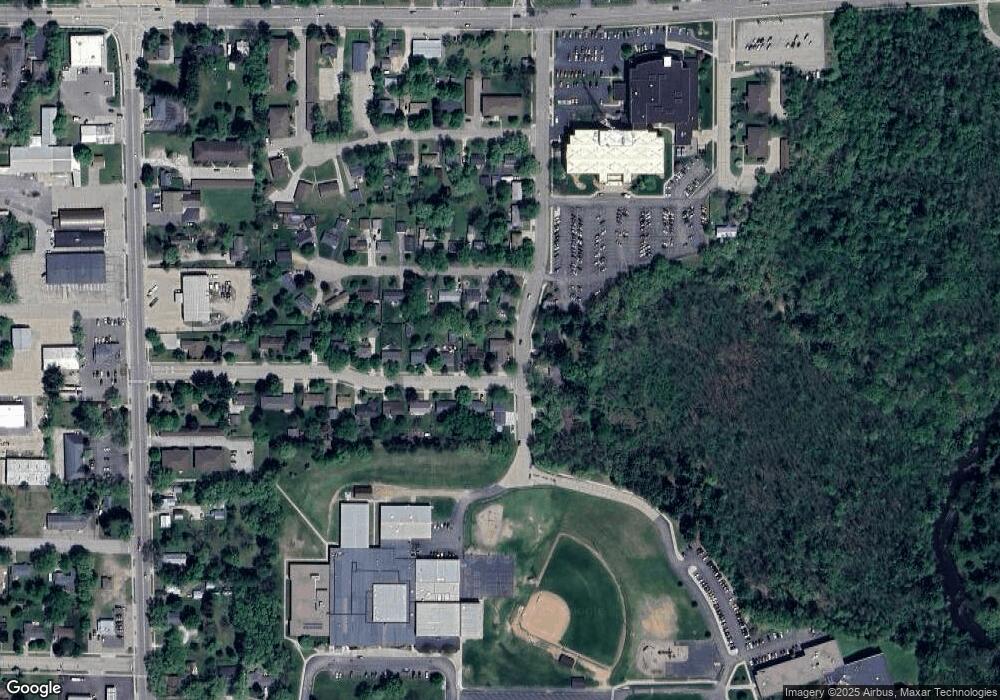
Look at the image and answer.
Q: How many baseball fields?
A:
one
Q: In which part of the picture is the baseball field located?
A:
bottom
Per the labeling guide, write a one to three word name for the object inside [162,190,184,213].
house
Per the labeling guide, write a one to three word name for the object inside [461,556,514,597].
basketball court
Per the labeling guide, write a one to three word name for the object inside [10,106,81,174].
building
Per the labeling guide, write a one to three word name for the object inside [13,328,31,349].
shed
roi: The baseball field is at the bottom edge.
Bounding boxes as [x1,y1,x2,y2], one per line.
[511,534,626,682]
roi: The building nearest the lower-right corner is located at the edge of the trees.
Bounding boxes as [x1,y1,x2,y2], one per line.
[755,640,844,700]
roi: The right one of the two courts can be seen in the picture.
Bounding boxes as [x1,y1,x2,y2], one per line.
[666,639,720,676]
